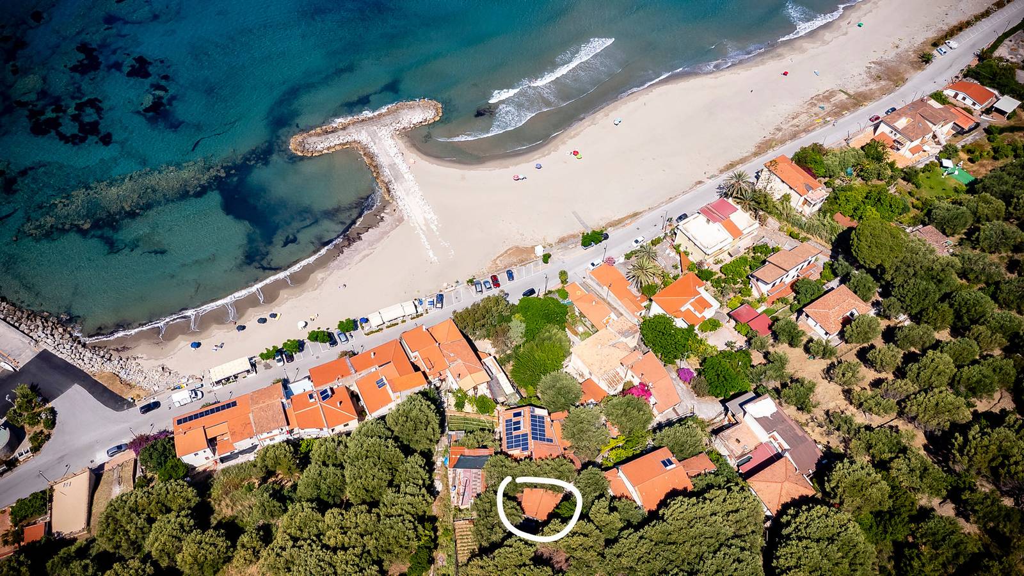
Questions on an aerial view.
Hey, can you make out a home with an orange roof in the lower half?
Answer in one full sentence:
Yes, there is a home with an orange roof in the lower half.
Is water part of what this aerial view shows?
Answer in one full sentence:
Yes, water shows up in the scene.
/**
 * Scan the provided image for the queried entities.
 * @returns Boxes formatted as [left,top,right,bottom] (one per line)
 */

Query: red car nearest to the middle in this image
[490,275,502,289]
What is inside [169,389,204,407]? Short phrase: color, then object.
white vehicle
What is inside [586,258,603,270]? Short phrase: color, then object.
white vehicle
